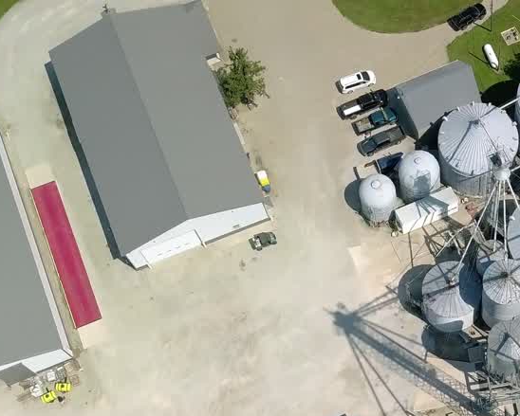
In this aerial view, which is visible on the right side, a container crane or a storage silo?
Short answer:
storage silo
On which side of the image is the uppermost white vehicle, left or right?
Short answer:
right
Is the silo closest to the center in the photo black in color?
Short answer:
No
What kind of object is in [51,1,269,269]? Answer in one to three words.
shed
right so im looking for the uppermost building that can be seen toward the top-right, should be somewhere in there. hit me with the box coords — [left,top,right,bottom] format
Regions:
[393,59,483,146]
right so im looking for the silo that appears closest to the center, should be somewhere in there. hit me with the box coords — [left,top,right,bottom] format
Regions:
[360,175,398,225]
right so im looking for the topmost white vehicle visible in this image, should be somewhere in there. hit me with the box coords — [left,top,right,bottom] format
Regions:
[334,66,380,95]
